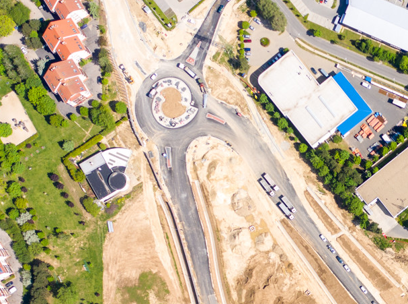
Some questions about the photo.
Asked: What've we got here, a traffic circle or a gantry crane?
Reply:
traffic circle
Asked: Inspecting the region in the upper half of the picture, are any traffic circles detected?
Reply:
Yes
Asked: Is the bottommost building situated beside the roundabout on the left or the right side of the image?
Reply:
left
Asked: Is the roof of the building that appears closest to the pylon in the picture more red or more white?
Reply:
white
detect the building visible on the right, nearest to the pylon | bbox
[259,50,372,149]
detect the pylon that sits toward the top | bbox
[213,38,238,57]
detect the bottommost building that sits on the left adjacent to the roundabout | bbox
[79,148,135,205]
